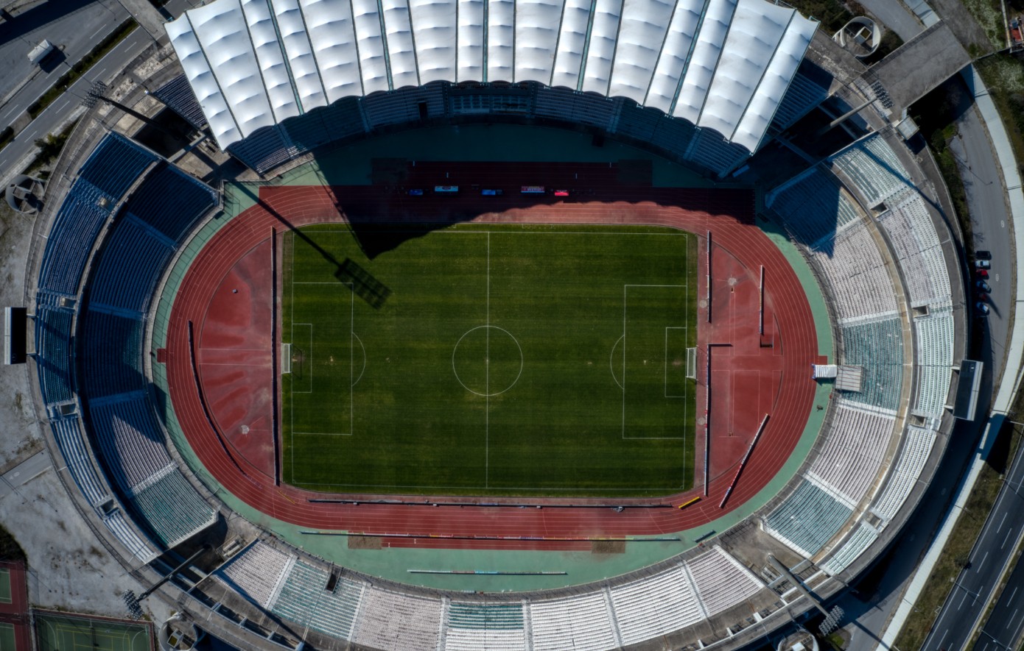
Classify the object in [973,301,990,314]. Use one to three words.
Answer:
vehicle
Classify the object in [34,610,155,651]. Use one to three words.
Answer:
sports court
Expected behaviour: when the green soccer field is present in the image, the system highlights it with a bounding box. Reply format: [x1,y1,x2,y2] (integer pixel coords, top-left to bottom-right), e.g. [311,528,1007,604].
[282,223,699,497]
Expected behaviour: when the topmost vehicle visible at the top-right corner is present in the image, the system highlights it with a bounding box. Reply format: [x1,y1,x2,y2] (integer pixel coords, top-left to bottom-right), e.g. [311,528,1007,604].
[1009,19,1022,42]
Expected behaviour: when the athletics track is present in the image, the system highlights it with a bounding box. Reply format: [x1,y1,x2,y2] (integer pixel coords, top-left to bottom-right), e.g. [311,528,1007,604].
[157,161,827,551]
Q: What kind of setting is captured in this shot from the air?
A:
sports ground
